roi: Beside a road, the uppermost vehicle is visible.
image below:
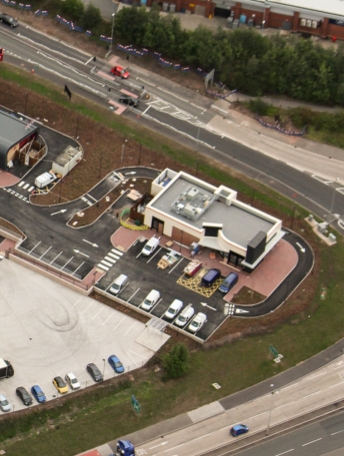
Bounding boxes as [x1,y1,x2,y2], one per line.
[0,12,19,28]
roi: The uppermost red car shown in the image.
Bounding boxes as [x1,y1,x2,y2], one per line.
[111,65,128,79]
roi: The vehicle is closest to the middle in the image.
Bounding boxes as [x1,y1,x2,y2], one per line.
[141,235,160,258]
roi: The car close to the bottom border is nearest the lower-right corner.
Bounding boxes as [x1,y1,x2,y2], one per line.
[228,425,251,438]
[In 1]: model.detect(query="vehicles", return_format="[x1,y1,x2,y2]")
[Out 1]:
[71,436,141,456]
[0,12,19,28]
[64,373,81,390]
[115,91,142,109]
[0,394,12,413]
[34,173,58,190]
[228,425,251,438]
[109,273,129,296]
[86,363,103,383]
[164,298,184,322]
[175,305,194,329]
[14,387,34,407]
[141,235,160,258]
[111,65,128,79]
[108,355,124,373]
[51,376,69,395]
[0,360,15,378]
[29,385,47,404]
[142,289,160,312]
[189,311,207,333]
